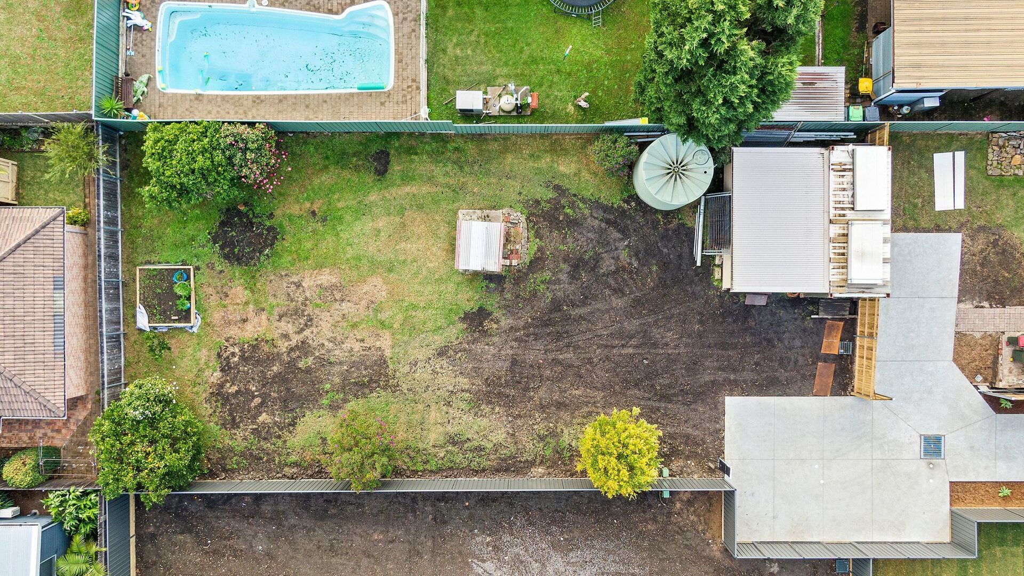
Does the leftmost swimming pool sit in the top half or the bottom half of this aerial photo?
top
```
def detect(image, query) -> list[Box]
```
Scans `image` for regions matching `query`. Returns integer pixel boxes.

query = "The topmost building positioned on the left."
[0,204,89,421]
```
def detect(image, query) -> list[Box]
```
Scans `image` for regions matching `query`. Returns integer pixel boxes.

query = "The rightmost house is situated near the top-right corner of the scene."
[872,0,1024,105]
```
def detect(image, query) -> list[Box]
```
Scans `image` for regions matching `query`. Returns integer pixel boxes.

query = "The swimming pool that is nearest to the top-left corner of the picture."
[155,0,394,95]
